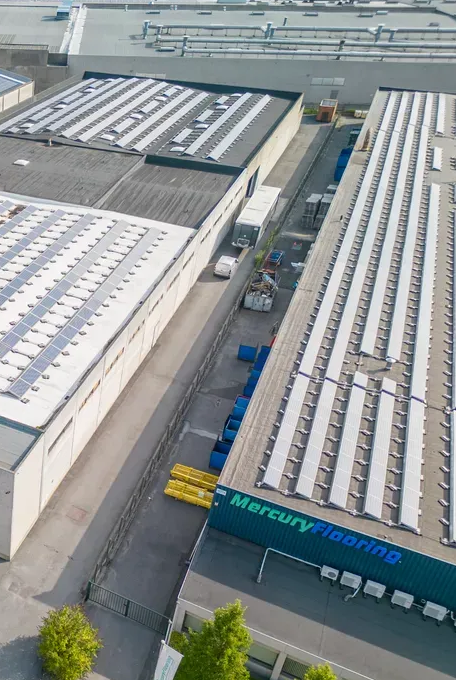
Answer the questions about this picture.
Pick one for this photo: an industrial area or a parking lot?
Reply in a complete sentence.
It's an industrial area.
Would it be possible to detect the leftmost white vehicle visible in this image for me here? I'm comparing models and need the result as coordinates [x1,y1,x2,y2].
[212,252,244,277]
